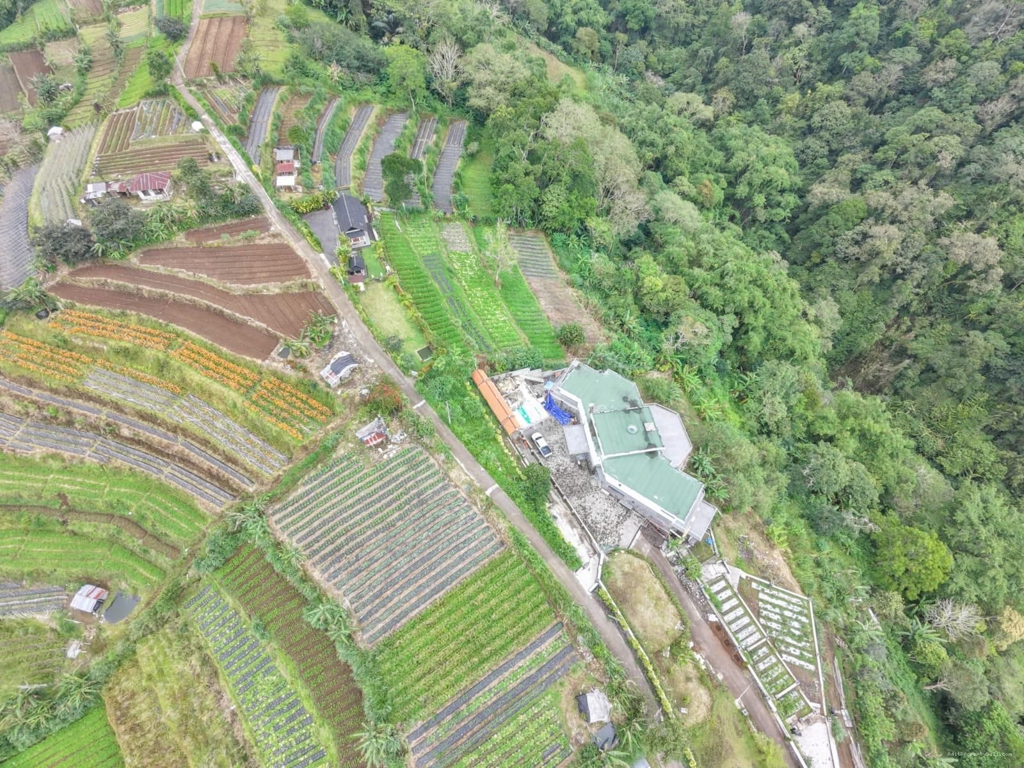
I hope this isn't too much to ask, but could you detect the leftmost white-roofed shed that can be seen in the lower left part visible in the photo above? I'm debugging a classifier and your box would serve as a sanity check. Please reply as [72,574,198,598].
[70,583,107,619]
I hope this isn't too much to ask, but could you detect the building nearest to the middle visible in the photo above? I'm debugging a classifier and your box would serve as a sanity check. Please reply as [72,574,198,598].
[472,371,521,440]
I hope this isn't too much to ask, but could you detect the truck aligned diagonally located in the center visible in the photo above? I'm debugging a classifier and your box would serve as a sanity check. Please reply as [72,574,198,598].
[529,429,554,459]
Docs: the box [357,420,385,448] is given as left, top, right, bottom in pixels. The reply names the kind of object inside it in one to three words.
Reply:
shed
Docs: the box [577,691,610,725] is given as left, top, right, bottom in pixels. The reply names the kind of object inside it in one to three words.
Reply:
shed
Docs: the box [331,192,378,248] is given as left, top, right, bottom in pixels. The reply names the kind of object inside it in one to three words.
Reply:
house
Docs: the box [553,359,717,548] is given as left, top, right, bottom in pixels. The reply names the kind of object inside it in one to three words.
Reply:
house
